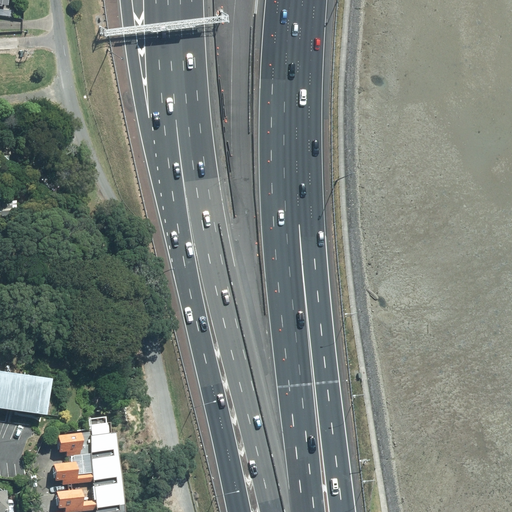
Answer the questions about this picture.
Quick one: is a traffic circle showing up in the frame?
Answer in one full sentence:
No, there isn't any traffic circle down there.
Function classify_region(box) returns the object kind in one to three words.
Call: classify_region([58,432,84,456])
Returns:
house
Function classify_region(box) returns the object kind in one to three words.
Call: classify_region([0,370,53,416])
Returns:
building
